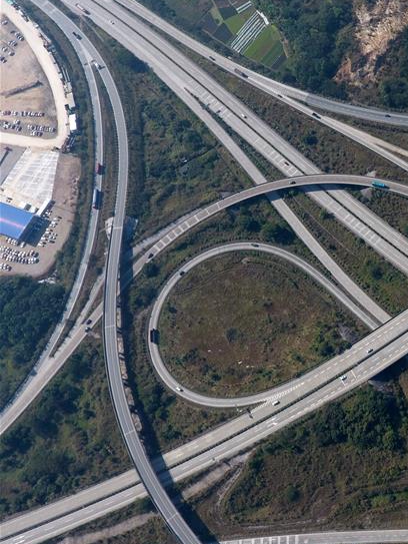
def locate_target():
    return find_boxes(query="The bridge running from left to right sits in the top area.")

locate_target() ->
[226,174,406,205]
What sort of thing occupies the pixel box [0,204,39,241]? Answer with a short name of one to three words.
building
